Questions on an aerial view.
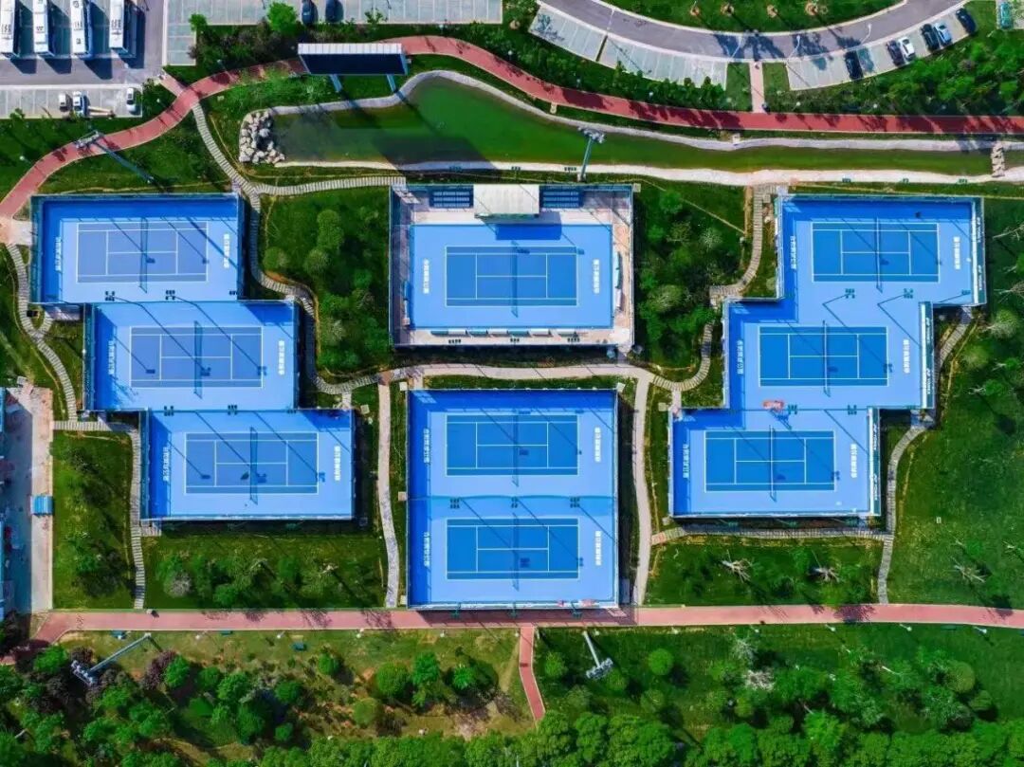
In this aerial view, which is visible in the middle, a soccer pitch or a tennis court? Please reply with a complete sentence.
There is a tennis court in the middle.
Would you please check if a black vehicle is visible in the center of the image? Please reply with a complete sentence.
No, looking in the center of the image, there is no black vehicle.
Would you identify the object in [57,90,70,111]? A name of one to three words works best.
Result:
vehicle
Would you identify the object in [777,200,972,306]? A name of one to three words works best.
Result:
tennis court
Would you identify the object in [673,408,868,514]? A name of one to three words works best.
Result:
tennis court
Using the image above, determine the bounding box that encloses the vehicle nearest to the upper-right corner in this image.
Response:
[999,2,1013,27]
